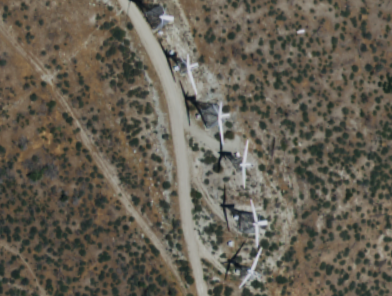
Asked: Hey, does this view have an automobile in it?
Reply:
No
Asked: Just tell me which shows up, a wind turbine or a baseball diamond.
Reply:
wind turbine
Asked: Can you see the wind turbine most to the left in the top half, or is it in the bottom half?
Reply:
top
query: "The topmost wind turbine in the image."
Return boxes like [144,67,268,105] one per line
[139,0,174,31]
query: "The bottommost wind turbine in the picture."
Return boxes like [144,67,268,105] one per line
[236,248,260,290]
